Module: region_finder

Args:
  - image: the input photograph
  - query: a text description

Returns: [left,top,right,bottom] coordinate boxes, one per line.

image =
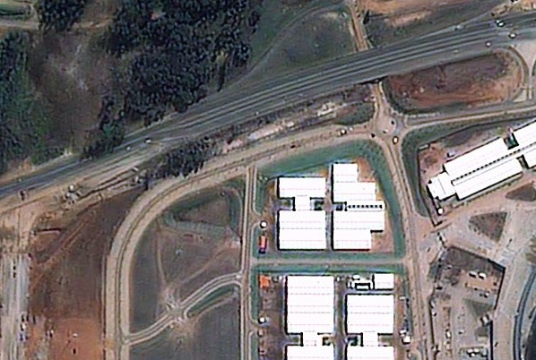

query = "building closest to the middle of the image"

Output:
[279,177,326,250]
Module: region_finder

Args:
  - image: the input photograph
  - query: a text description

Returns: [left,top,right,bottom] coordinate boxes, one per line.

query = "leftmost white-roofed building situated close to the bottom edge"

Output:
[287,276,334,360]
